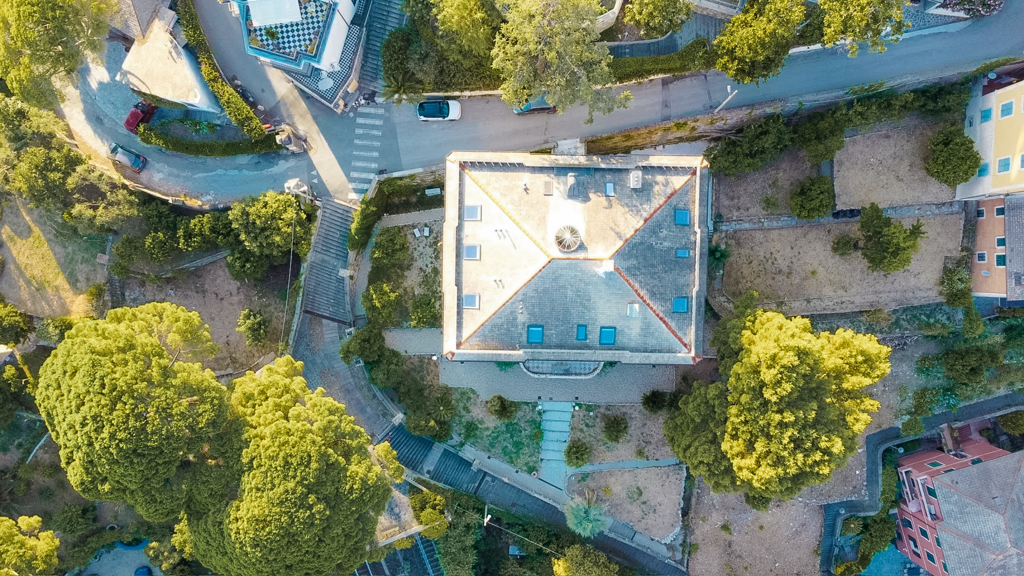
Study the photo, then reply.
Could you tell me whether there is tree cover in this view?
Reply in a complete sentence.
Yes, tree cover can be seen from above here.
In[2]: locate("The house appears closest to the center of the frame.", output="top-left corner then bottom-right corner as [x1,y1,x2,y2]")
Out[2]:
[440,150,711,363]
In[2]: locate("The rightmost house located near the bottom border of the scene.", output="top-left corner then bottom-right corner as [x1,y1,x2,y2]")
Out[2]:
[898,438,1024,576]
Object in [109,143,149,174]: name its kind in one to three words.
car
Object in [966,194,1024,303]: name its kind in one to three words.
house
